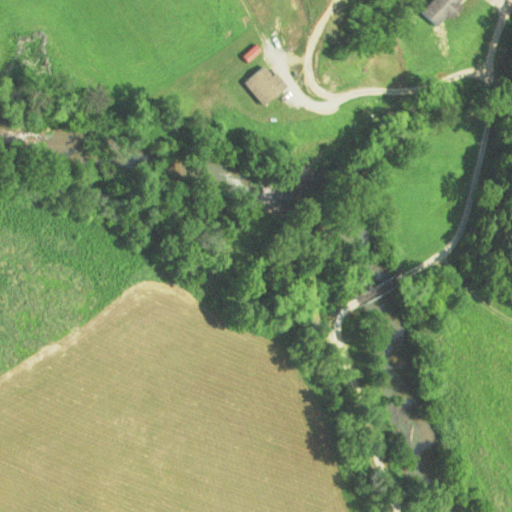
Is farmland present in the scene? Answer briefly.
Yes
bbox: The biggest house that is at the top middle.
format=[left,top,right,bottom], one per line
[246,66,284,104]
